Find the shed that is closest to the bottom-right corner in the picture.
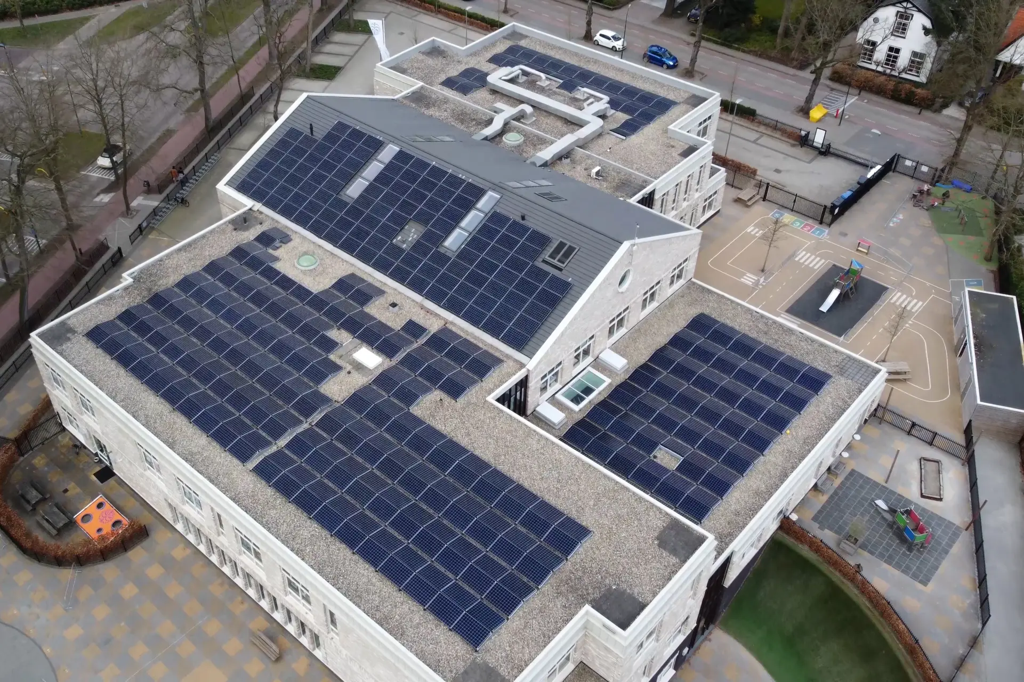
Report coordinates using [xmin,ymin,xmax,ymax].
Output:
[954,288,1024,444]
